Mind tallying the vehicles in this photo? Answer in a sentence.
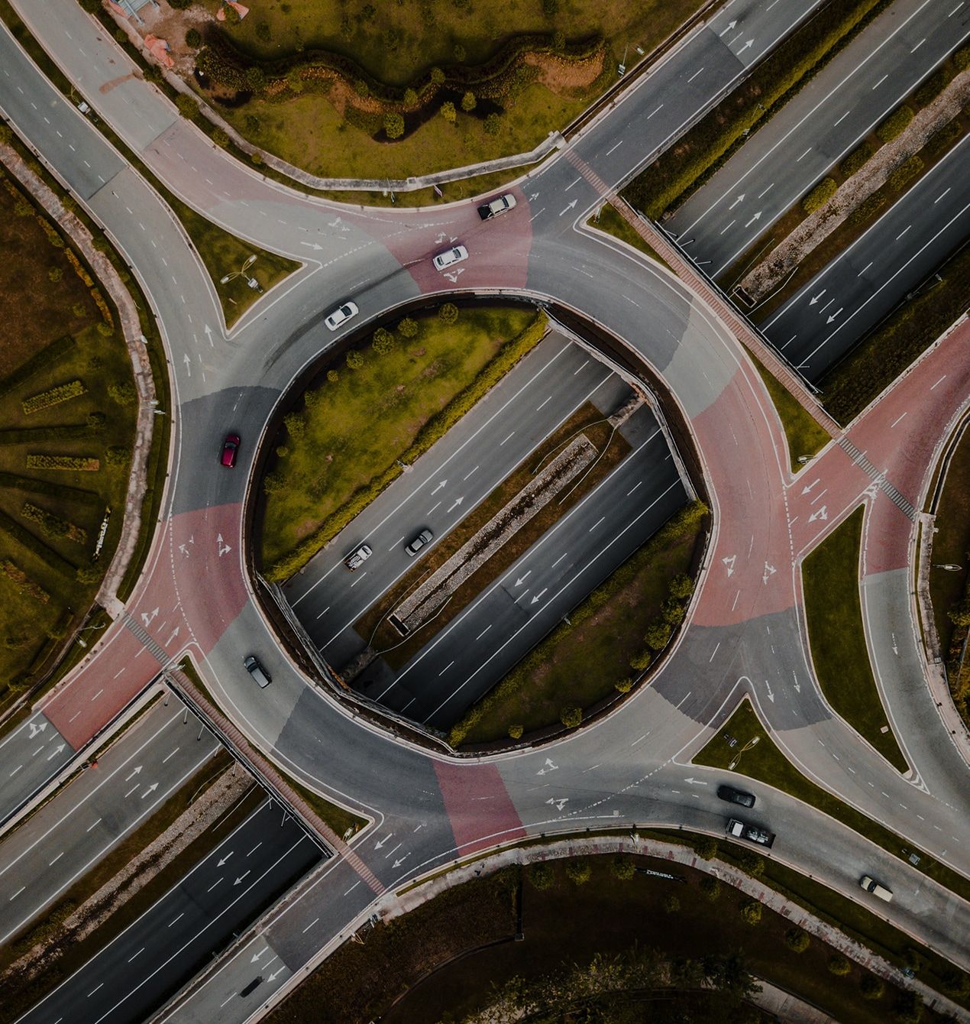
The picture shows 10 vehicles.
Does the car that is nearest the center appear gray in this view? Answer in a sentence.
Yes, the car that is nearest the center is indeed gray.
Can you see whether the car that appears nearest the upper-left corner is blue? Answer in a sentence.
No, from above the car that appears nearest the upper-left corner looks white.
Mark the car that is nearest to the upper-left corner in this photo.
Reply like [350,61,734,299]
[323,302,360,330]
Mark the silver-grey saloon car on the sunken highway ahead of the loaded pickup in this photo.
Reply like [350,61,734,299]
[404,528,435,558]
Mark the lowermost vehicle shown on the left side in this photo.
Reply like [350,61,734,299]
[244,655,272,690]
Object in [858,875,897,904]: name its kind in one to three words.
van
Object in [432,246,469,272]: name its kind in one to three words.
car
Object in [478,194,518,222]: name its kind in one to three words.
truck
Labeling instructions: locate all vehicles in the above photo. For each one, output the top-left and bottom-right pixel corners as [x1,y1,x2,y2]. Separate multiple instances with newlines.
[858,875,897,904]
[432,246,469,272]
[323,302,360,330]
[725,819,774,849]
[343,544,373,572]
[716,785,757,808]
[244,655,272,690]
[404,528,435,558]
[220,435,240,467]
[478,194,518,222]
